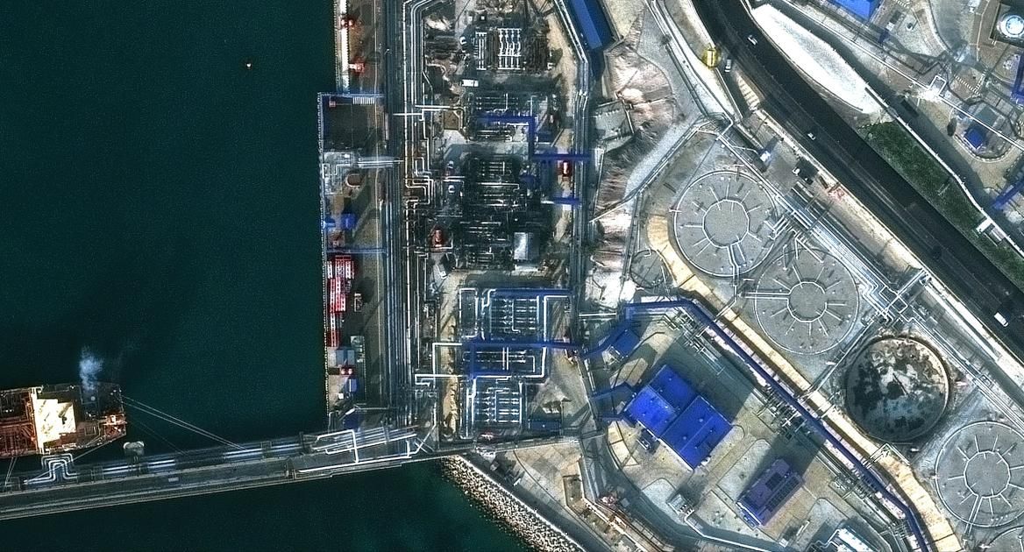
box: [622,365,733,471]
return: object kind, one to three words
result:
building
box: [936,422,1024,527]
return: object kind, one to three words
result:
storage tank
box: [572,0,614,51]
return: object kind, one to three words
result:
shed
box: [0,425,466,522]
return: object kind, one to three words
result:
pier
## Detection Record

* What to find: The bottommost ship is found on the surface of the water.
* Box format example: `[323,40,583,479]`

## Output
[0,382,128,458]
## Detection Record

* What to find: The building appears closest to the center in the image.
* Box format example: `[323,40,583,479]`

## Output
[513,232,539,262]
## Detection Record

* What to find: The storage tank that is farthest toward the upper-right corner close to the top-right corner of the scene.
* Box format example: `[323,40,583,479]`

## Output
[988,2,1024,48]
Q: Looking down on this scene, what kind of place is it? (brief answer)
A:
port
